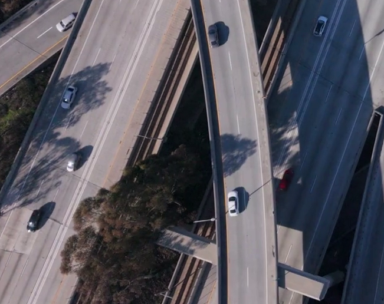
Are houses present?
No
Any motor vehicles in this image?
Yes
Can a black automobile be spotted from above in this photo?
Yes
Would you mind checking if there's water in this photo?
No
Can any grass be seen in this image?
No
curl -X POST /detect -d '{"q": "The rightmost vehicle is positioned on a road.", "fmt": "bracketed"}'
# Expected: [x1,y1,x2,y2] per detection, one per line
[313,14,326,38]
